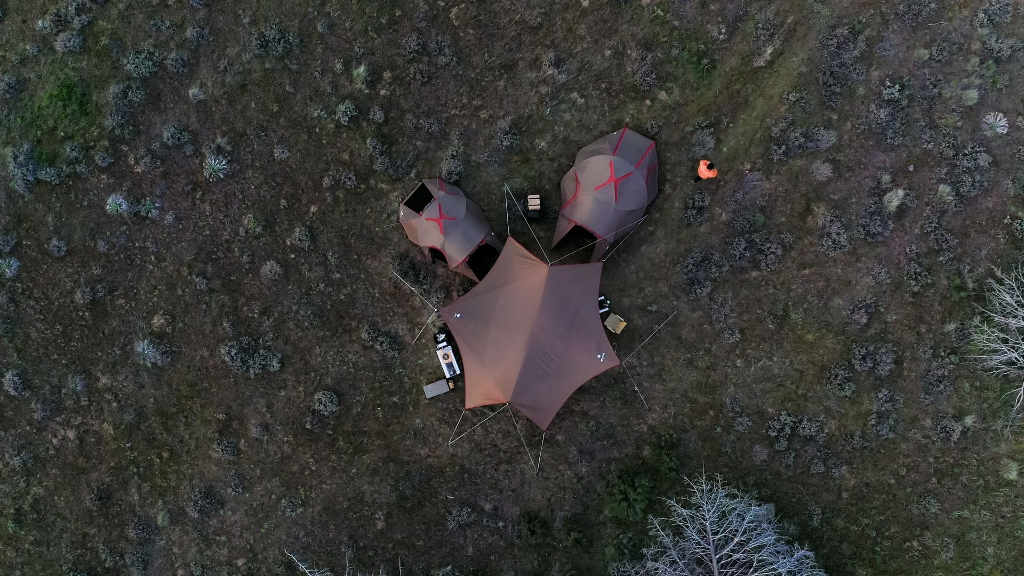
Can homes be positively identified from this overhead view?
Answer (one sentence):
No, I find no home anywhere in the image.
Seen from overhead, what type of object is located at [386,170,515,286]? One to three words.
tent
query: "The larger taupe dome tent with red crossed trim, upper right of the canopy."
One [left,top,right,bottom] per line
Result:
[537,126,664,264]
